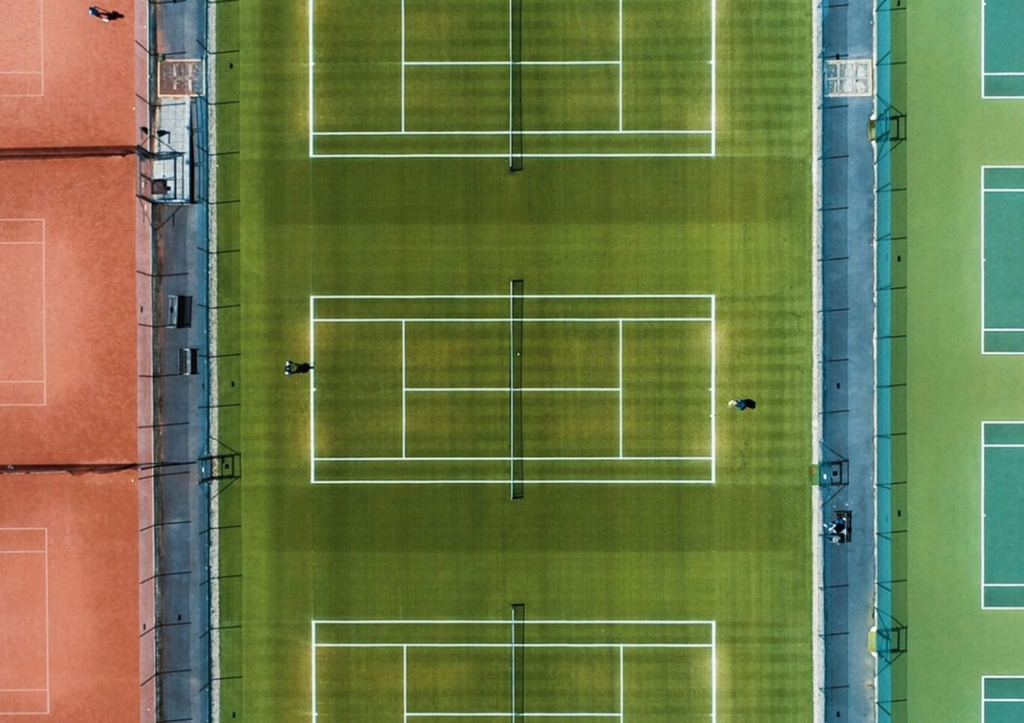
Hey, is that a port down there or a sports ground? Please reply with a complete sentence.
It's a sports ground.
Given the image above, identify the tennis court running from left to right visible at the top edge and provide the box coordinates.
[309,0,715,158]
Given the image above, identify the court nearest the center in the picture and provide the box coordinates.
[310,295,715,484]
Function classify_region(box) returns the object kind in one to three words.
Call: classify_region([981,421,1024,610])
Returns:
tennis court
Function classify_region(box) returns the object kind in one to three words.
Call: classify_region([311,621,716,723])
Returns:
tennis court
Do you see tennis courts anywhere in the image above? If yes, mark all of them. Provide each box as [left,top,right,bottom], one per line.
[981,421,1024,610]
[981,165,1024,355]
[310,295,715,484]
[981,0,1024,98]
[311,621,716,723]
[309,0,715,158]
[0,218,46,406]
[0,0,43,96]
[981,676,1024,723]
